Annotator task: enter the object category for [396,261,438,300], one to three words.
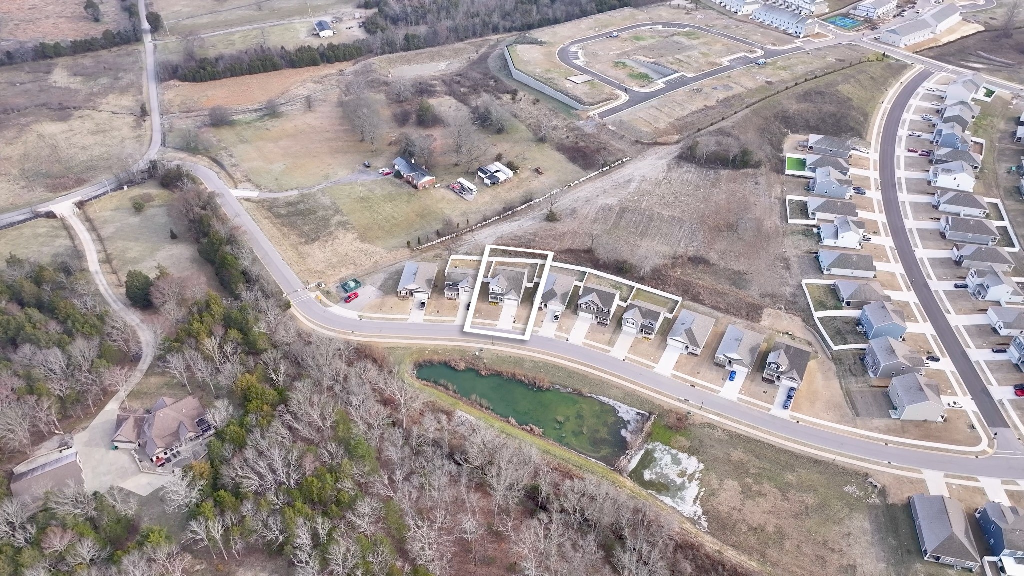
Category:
house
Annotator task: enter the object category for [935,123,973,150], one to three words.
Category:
house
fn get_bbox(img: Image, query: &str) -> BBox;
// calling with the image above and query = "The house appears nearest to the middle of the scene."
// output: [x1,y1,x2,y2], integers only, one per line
[488,266,529,307]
